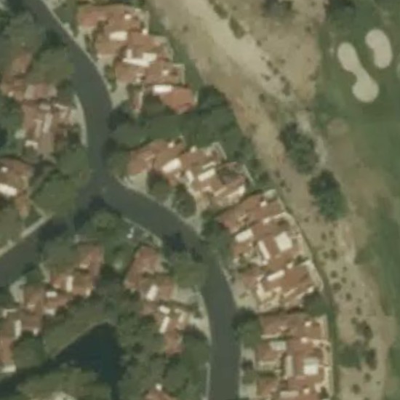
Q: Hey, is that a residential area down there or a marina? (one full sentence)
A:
It's a residential area.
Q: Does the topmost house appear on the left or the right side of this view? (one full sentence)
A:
It is on the left.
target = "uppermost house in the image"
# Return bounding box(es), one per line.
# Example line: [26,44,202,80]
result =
[74,0,150,40]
